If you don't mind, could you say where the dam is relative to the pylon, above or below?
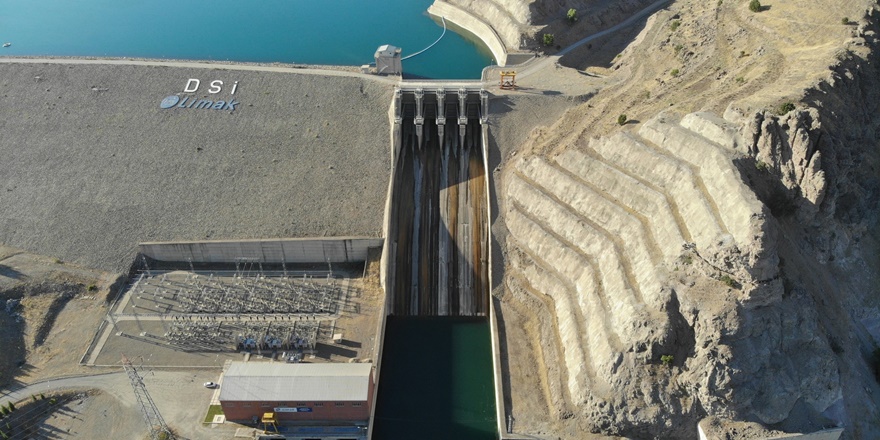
above it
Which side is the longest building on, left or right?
left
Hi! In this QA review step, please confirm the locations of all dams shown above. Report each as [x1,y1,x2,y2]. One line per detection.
[0,54,398,284]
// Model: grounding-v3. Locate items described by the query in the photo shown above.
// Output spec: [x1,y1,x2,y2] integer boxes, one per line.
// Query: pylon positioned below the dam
[115,358,174,440]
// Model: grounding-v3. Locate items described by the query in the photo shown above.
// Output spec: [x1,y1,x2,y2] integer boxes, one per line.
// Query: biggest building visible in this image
[217,360,374,430]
